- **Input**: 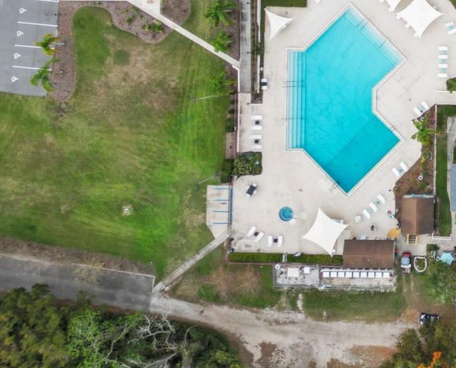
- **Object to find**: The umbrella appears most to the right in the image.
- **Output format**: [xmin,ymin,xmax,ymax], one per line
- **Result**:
[440,251,454,264]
